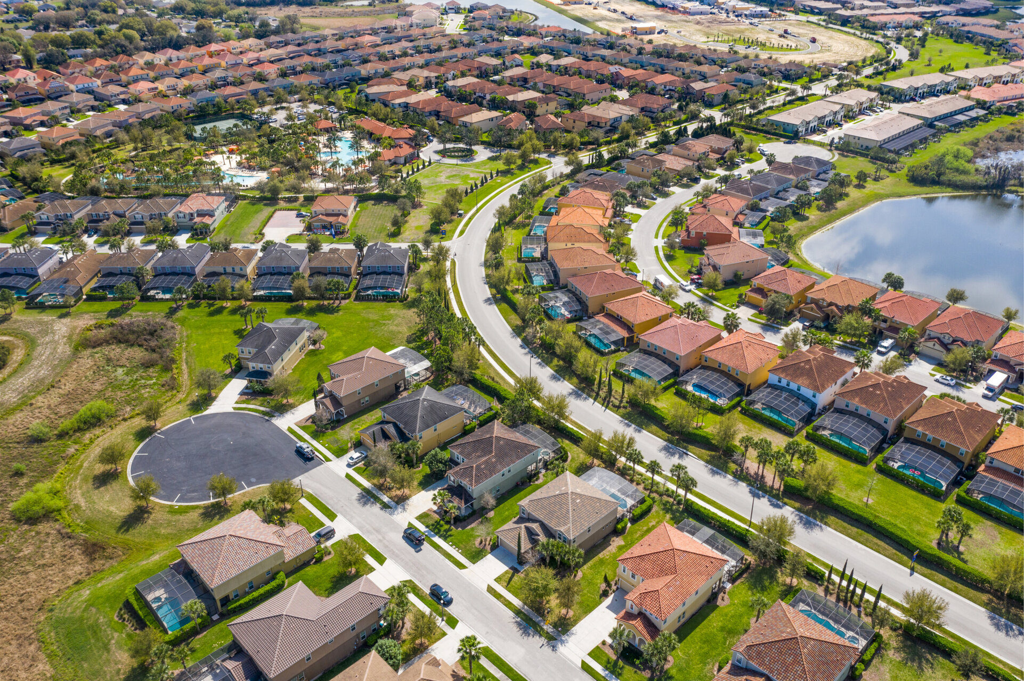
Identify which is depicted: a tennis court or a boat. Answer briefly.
tennis court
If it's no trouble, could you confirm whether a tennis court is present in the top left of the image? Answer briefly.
Yes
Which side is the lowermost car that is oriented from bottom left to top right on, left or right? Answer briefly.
left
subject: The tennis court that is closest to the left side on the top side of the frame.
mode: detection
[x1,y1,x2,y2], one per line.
[178,108,266,140]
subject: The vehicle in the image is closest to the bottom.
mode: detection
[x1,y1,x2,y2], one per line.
[428,582,453,605]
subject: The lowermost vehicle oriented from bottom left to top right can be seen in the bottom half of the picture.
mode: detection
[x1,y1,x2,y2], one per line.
[310,520,339,543]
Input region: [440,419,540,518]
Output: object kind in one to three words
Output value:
house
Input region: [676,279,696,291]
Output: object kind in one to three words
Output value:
vehicle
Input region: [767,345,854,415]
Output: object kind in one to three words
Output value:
house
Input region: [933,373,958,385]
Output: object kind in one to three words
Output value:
vehicle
